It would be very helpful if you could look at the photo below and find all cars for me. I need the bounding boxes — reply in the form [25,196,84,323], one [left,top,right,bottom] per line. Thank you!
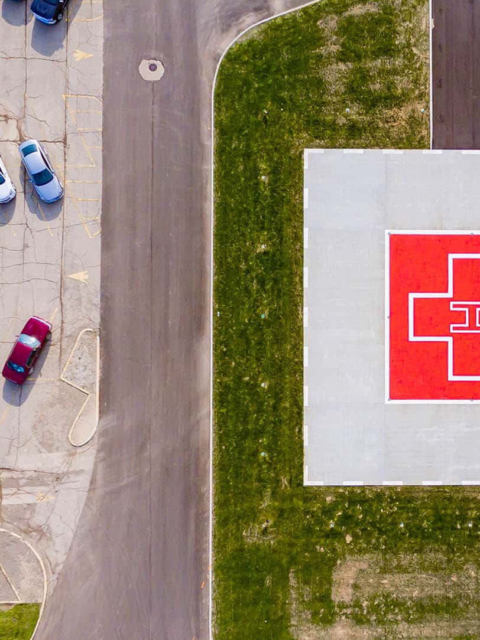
[22,140,63,203]
[0,151,16,203]
[3,318,51,384]
[33,0,69,27]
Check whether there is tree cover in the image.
No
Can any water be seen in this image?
No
